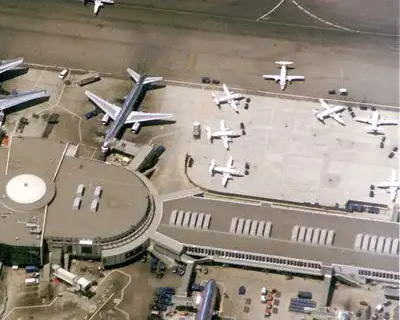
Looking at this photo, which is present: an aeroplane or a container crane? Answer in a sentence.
It is an aeroplane that can be seen here.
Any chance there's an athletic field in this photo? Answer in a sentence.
No, the frame has no athletic field in it.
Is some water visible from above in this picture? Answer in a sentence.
No, there's no water in this view.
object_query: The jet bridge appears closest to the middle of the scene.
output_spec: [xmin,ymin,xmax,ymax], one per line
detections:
[112,137,142,159]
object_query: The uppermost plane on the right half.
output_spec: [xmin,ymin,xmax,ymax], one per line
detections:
[262,57,305,91]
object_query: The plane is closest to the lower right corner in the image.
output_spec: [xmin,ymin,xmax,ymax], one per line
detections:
[372,172,400,199]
